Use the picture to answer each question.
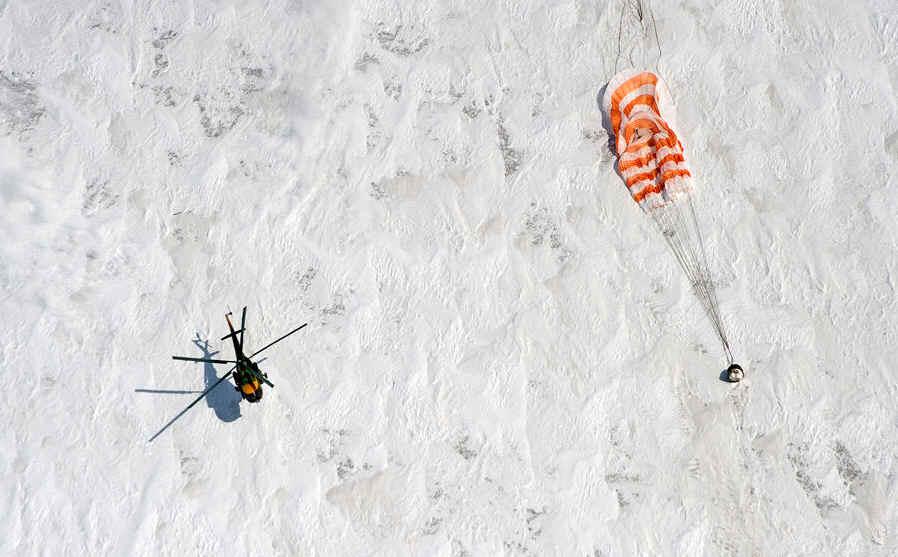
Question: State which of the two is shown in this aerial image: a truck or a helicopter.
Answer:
helicopter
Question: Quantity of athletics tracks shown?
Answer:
zero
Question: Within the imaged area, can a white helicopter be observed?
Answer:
No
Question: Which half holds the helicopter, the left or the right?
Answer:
left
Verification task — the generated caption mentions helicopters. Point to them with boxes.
[172,302,308,408]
